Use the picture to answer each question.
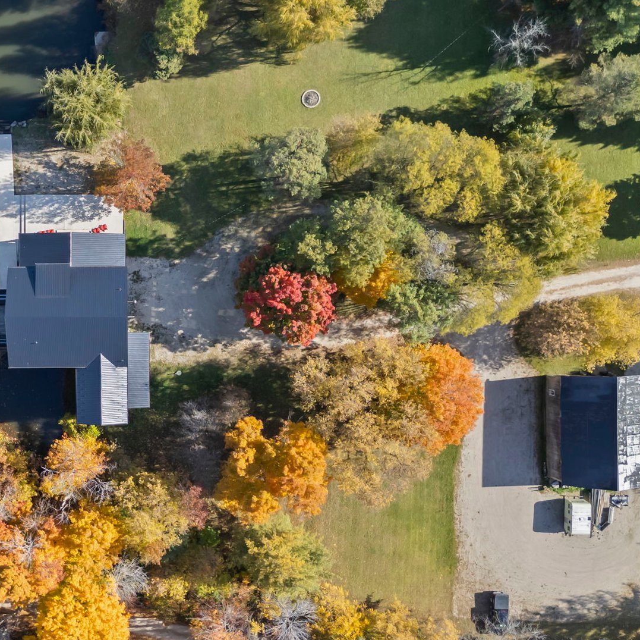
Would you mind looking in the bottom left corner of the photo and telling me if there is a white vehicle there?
No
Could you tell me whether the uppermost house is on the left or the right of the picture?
left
